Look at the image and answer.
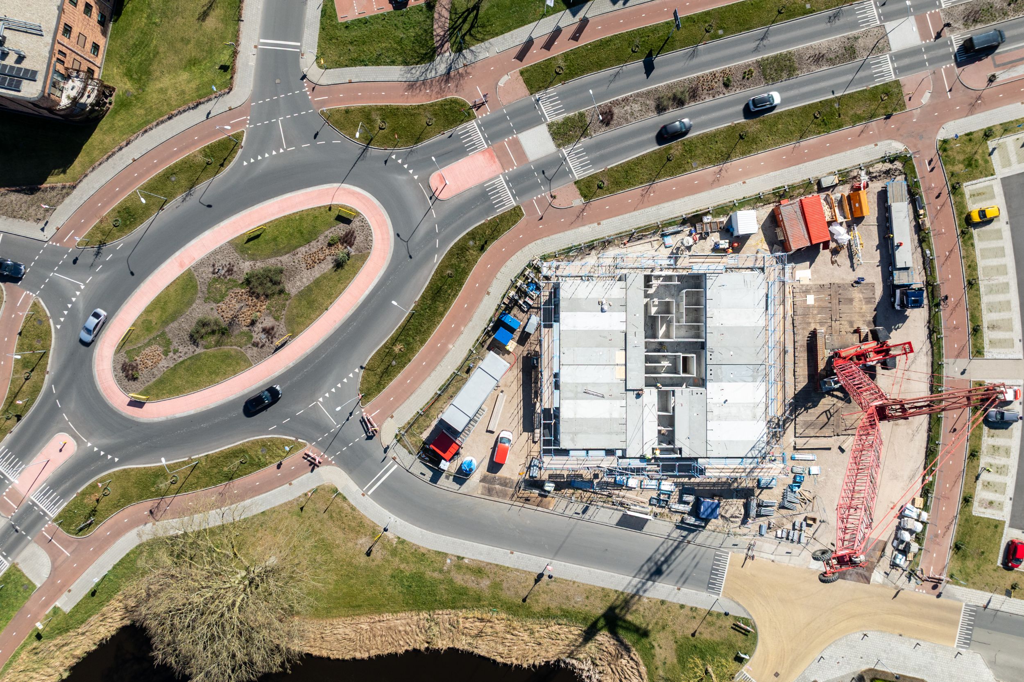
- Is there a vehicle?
Yes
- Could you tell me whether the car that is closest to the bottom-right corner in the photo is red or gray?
red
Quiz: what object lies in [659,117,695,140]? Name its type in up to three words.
car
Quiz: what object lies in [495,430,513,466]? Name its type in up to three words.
vehicle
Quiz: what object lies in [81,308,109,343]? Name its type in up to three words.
car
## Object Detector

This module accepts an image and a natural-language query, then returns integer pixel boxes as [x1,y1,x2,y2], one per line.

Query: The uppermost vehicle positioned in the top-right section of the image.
[962,29,1004,54]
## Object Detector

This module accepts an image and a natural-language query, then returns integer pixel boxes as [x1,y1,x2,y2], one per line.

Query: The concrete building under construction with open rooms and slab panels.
[558,273,766,459]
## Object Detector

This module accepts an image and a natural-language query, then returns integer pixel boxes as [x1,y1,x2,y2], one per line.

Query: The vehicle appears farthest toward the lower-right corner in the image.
[1003,537,1024,569]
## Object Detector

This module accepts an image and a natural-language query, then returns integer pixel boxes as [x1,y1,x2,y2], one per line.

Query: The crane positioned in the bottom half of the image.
[629,326,1017,591]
